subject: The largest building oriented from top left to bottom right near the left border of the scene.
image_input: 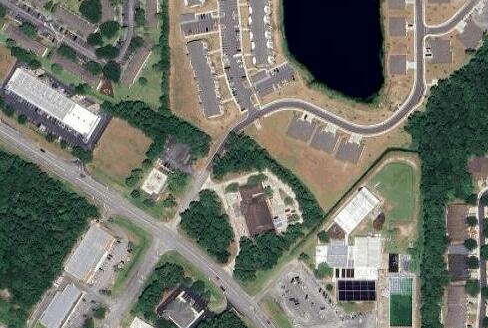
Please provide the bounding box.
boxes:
[5,64,101,141]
